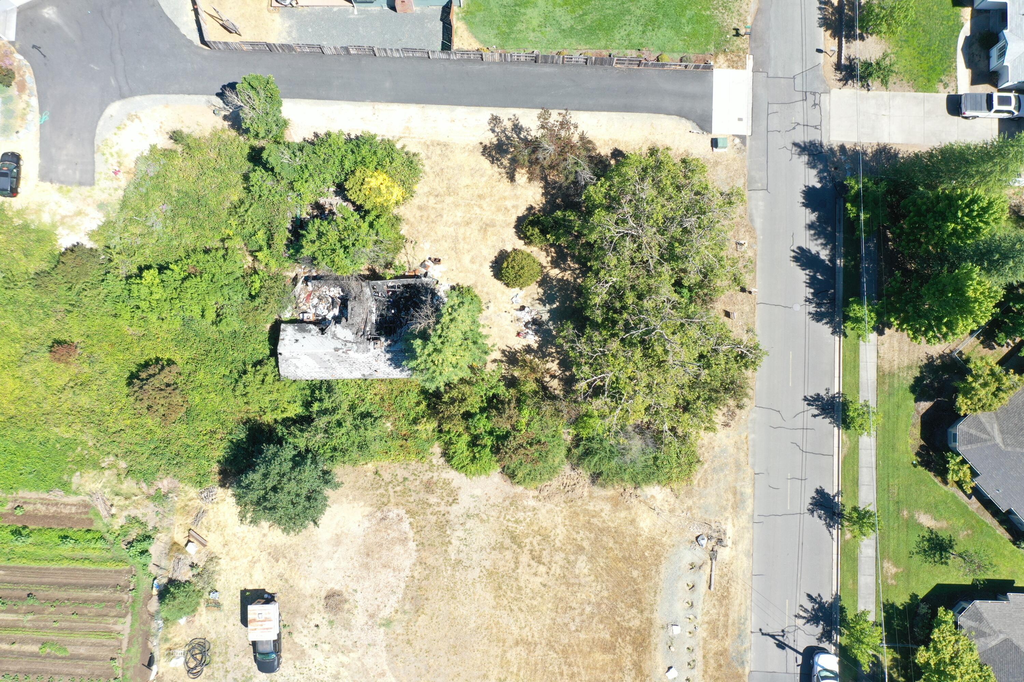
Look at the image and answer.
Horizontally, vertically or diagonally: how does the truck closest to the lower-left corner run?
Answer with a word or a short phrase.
vertically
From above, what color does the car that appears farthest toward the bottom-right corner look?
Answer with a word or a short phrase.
white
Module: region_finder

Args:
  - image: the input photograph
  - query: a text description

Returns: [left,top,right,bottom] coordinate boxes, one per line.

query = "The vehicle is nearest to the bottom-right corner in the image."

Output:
[815,653,844,682]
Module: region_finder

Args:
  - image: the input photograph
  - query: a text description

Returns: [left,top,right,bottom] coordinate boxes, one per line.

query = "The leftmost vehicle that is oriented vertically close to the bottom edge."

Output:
[248,593,283,675]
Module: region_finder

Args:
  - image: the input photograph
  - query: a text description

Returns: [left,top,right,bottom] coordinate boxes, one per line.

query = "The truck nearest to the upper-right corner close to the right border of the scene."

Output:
[960,88,1024,115]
